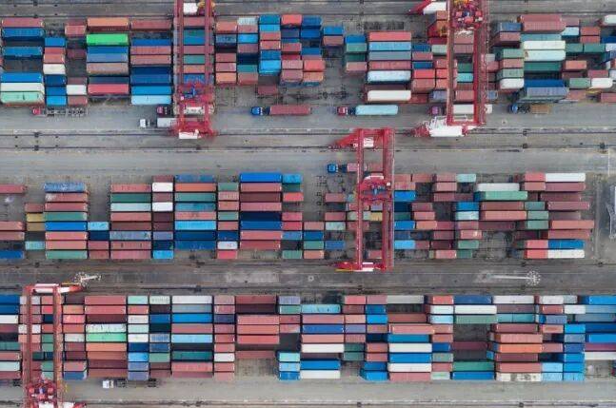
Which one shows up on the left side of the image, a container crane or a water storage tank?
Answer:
container crane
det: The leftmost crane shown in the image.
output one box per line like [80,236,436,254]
[21,281,87,408]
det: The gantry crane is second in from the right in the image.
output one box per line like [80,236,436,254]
[323,129,393,273]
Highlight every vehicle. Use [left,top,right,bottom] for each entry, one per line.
[157,105,175,115]
[140,118,162,128]
[509,105,551,114]
[250,106,272,116]
[32,106,86,117]
[102,380,155,389]
[336,105,358,116]
[326,163,347,173]
[429,105,445,115]
[0,379,22,388]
